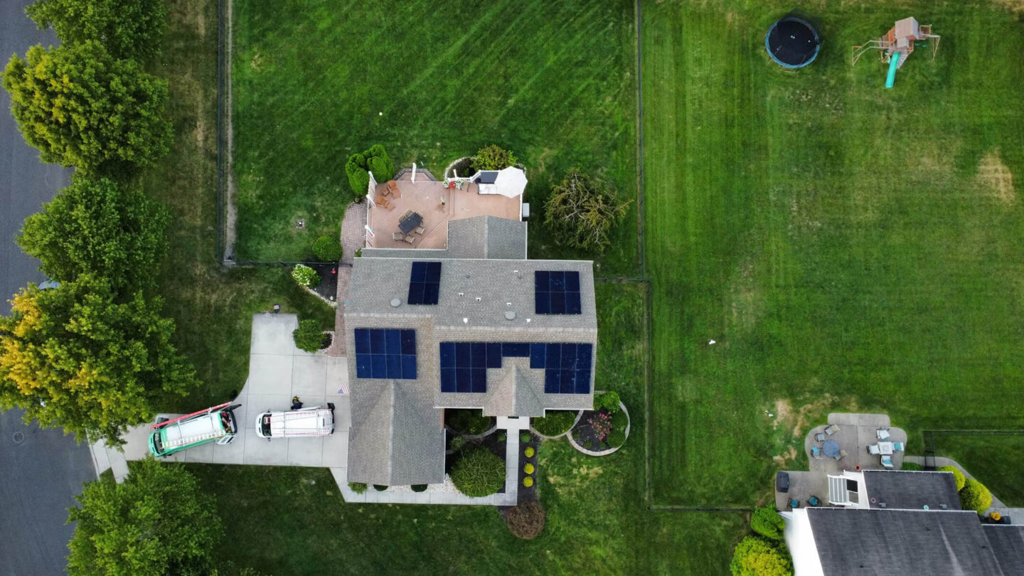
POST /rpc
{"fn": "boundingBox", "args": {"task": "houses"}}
[343,215,598,486]
[783,468,1024,576]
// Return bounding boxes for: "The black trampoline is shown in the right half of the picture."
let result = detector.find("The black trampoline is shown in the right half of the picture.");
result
[765,10,824,72]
